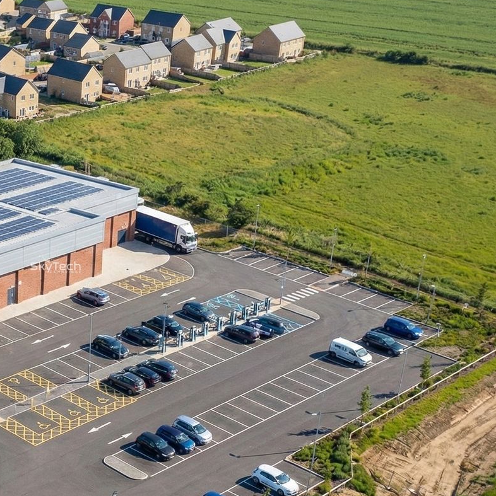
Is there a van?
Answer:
Yes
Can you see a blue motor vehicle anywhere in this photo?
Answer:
Yes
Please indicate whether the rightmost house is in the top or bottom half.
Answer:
top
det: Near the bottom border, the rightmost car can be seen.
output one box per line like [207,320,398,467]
[252,463,298,492]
